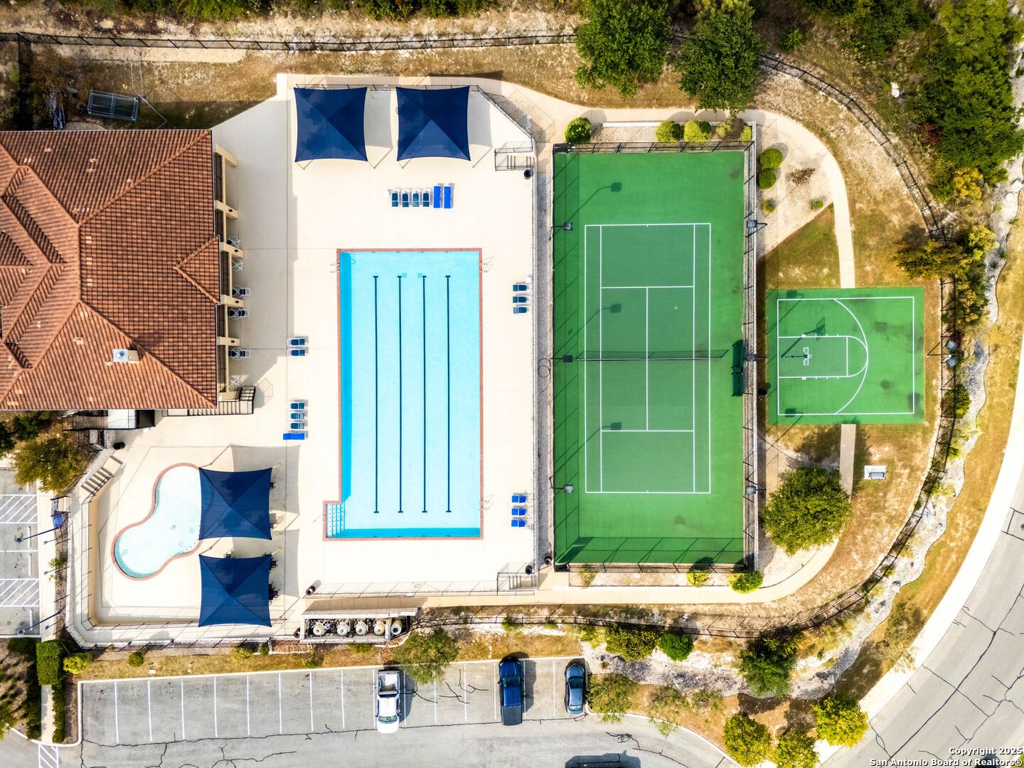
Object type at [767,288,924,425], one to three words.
basketball court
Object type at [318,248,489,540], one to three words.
swimming pool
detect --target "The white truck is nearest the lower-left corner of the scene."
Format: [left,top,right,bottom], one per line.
[372,669,400,736]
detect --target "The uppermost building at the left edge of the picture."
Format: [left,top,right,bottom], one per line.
[0,128,244,412]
